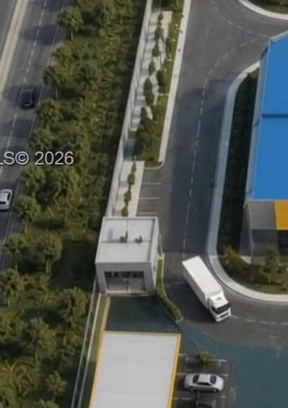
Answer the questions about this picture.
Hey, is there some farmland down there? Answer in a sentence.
No, the scene doesn't show any farmland.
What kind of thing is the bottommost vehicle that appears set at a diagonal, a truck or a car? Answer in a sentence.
It turns out the bottommost vehicle that appears set at a diagonal is a truck.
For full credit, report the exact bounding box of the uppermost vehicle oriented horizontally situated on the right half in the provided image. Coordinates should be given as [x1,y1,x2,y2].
[183,375,223,393]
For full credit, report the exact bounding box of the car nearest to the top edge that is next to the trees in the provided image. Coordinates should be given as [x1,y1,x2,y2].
[18,89,36,111]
